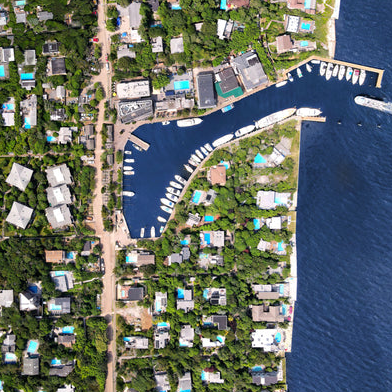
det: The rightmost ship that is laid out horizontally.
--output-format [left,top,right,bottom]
[354,97,389,111]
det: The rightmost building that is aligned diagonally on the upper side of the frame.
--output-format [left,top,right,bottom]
[253,136,294,168]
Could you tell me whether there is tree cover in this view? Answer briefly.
Yes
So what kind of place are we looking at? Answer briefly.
residential area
